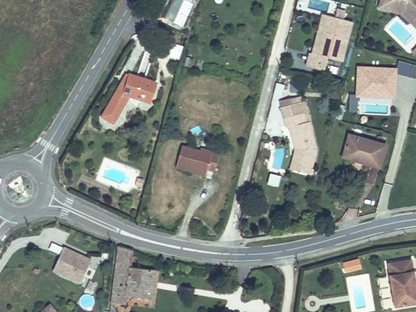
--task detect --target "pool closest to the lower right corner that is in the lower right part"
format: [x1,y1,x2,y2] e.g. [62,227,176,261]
[346,274,375,312]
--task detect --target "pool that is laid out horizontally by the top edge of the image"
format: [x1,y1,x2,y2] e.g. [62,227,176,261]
[296,0,337,14]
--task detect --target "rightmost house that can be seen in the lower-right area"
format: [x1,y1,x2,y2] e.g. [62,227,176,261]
[388,257,416,309]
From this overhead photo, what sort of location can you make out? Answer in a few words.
residential area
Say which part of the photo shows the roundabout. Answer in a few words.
left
